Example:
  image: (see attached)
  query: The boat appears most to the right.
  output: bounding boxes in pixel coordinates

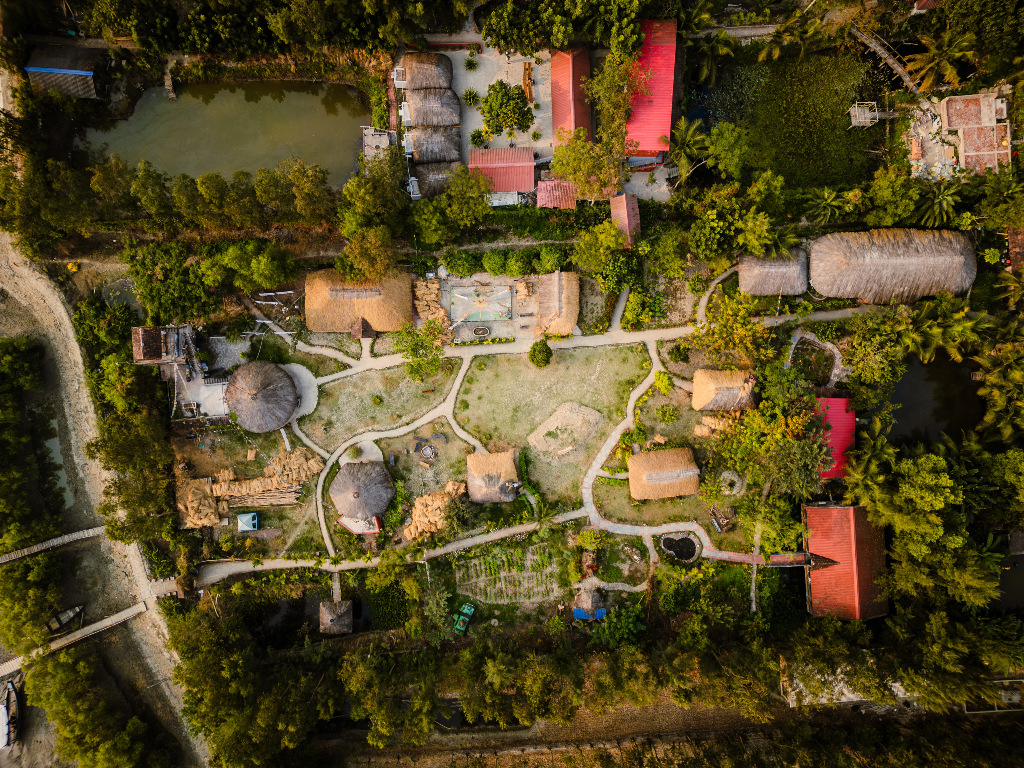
[53,602,90,633]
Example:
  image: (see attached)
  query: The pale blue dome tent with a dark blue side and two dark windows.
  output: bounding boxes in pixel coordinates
[237,513,259,532]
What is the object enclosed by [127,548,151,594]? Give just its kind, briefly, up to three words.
bridge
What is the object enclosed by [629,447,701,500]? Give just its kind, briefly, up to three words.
shed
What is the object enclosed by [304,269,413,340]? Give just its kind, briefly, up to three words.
building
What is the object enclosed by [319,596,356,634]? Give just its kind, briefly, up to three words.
gazebo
